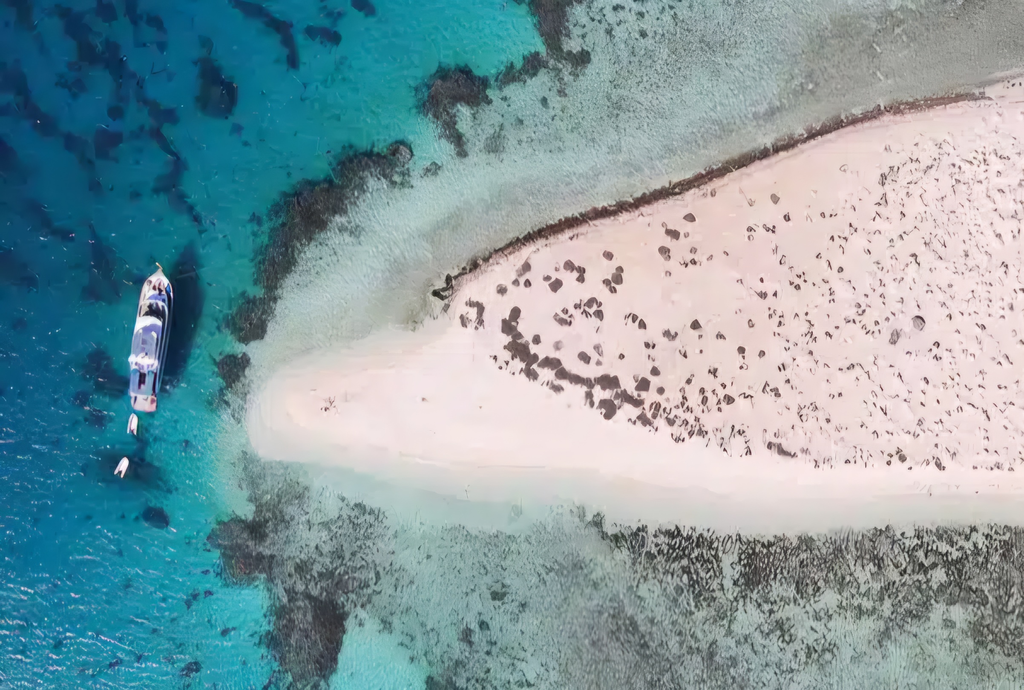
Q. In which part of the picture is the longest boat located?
left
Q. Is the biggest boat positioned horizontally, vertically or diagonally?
vertically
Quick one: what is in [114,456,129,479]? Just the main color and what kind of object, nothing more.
white boat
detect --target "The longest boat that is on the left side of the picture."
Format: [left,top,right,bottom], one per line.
[122,265,175,413]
